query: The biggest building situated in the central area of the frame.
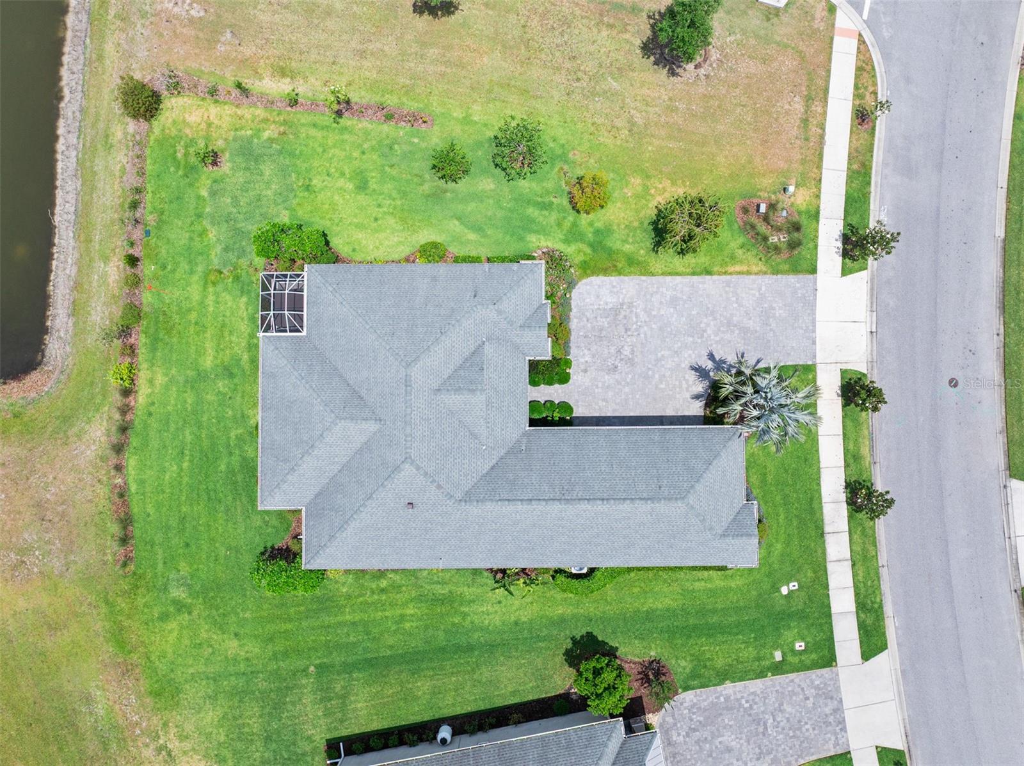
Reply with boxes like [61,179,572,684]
[257,261,760,570]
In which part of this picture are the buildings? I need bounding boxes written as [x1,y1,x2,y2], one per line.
[257,261,760,570]
[327,707,667,766]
